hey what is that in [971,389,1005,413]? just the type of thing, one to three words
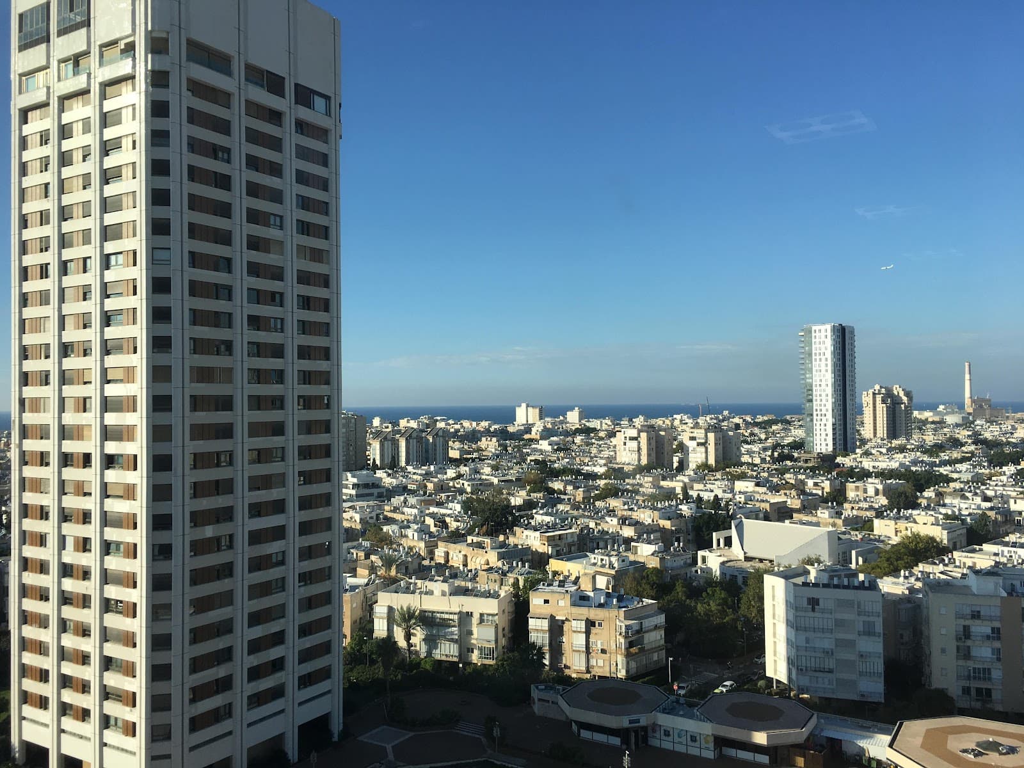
building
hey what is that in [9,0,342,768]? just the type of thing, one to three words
building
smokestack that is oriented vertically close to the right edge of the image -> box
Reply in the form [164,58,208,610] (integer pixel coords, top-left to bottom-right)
[964,361,976,412]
